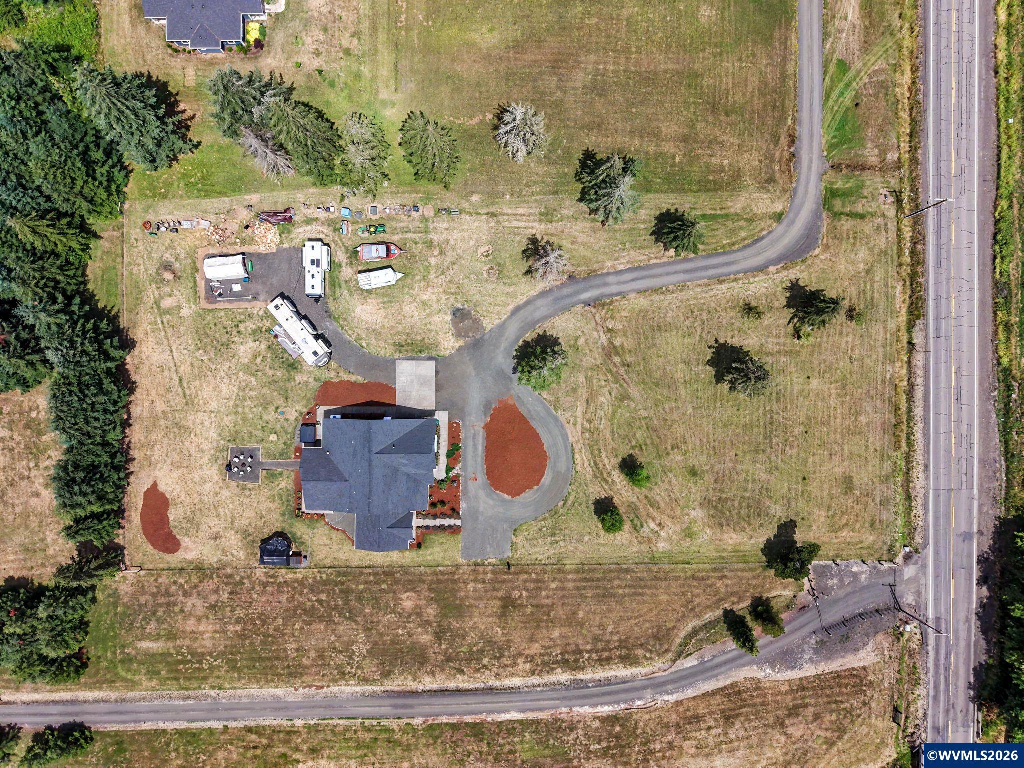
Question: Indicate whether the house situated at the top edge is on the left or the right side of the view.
left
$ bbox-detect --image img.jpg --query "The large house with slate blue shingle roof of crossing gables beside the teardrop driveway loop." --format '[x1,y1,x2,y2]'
[298,419,438,552]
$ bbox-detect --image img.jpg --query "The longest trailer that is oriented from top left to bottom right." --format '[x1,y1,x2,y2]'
[268,297,331,365]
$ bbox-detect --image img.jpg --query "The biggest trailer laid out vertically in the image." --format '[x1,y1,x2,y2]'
[302,241,331,307]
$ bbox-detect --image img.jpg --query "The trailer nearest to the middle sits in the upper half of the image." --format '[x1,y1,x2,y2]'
[359,269,404,291]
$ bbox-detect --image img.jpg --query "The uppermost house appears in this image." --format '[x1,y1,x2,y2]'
[139,0,266,56]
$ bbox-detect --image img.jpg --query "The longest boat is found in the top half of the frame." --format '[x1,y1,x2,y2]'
[352,245,407,262]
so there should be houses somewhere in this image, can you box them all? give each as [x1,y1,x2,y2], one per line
[298,419,438,552]
[139,0,266,56]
